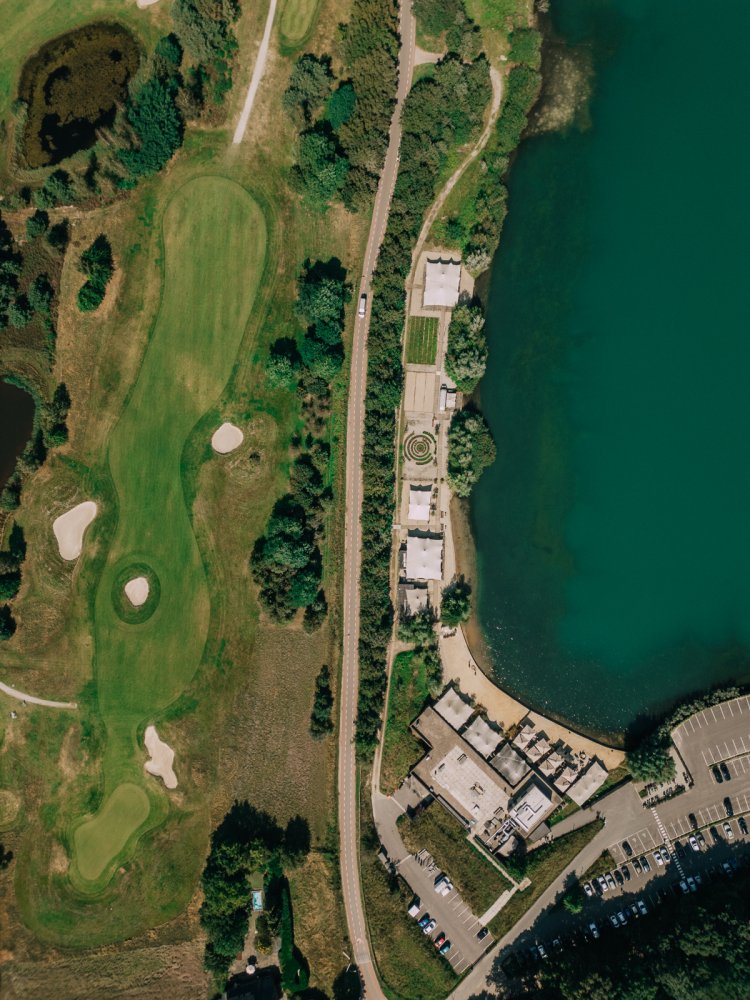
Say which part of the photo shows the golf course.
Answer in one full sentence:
The golf course is located in the left region of the scene.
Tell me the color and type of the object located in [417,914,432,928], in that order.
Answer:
blue vehicle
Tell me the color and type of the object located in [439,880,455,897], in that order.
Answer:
white vehicle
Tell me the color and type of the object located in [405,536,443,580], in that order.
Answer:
white tent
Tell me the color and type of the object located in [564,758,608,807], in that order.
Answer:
white tent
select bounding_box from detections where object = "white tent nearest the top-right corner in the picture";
[423,263,461,309]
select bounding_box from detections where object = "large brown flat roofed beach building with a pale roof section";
[409,701,562,854]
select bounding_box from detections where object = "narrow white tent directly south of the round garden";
[407,491,432,520]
